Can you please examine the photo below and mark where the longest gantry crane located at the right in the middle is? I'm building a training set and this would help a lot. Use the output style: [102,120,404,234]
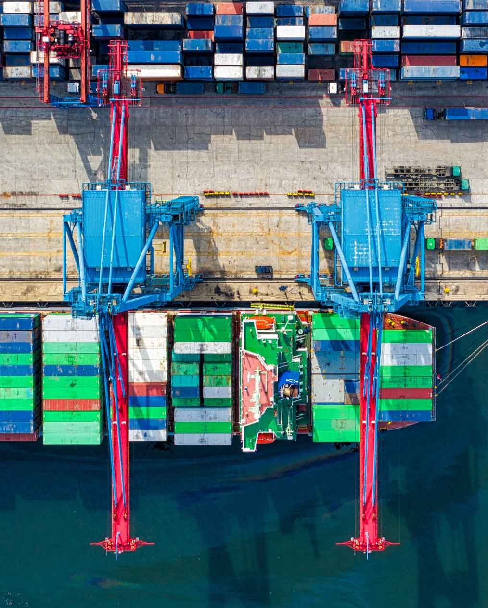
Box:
[294,38,440,563]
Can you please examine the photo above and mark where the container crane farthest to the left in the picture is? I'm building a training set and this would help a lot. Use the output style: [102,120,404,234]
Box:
[34,0,113,107]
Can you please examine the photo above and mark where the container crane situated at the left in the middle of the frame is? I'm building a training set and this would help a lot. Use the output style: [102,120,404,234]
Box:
[60,38,205,563]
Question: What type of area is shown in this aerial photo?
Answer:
port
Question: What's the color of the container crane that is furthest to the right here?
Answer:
blue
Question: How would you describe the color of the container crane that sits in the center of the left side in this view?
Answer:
blue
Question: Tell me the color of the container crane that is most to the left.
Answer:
red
